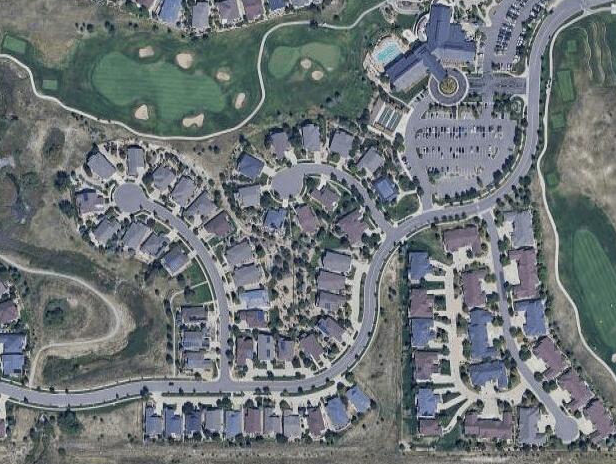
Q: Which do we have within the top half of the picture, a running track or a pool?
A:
pool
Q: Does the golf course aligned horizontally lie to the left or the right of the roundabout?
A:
on its left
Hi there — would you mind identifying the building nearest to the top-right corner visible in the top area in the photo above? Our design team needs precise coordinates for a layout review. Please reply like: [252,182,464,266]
[383,0,477,91]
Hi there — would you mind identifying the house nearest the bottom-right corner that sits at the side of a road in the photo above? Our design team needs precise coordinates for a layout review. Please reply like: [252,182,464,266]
[585,399,616,440]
